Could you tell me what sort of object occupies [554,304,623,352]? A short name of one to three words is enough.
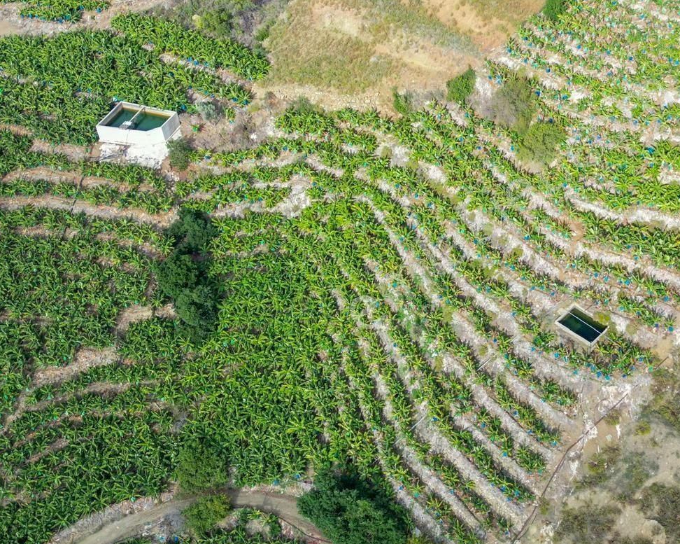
pond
